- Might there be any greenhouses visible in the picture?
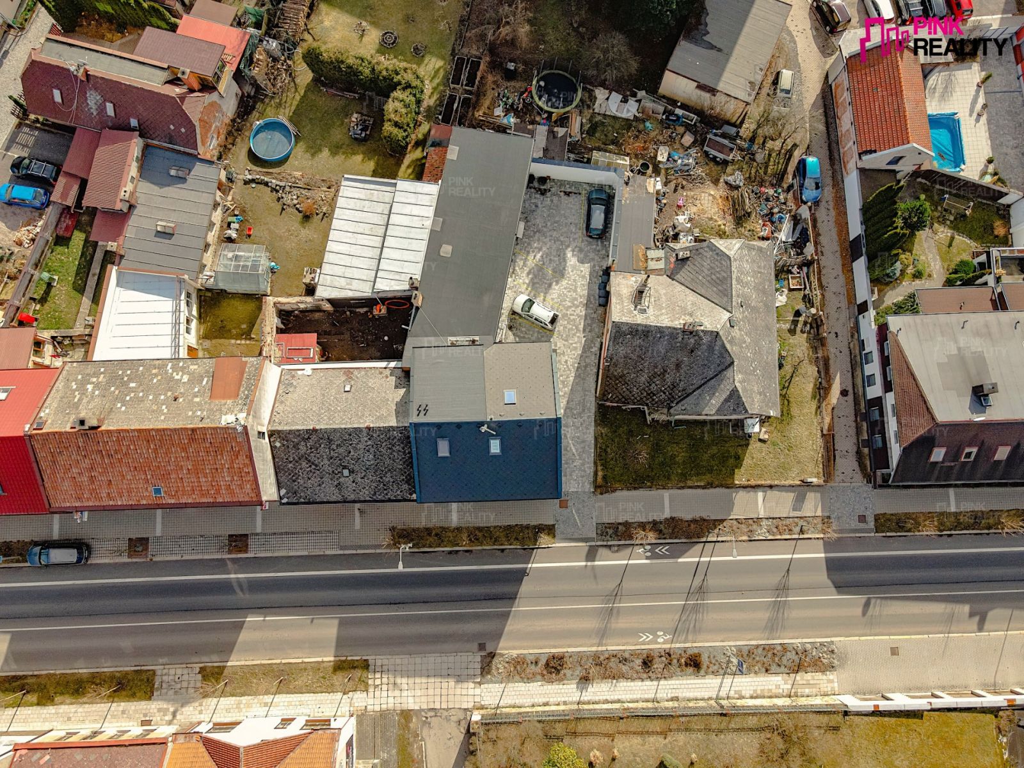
Yes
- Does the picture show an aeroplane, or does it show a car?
car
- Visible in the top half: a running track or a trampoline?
trampoline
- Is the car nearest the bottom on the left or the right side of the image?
left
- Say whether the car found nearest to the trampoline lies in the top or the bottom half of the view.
top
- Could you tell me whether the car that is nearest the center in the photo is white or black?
white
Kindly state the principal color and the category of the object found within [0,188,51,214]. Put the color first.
blue car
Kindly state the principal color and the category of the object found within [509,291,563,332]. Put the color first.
white car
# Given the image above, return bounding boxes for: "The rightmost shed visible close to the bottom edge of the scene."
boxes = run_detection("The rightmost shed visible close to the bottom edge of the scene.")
[356,703,402,768]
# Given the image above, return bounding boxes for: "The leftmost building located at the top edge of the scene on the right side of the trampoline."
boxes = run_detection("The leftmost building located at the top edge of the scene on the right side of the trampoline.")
[661,0,793,122]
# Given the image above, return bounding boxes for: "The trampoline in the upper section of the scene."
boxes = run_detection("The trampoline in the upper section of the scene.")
[534,60,584,116]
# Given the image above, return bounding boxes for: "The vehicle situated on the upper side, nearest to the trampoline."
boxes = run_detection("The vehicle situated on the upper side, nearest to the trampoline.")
[584,188,609,239]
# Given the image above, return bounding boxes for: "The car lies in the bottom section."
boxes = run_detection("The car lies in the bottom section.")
[32,540,89,566]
